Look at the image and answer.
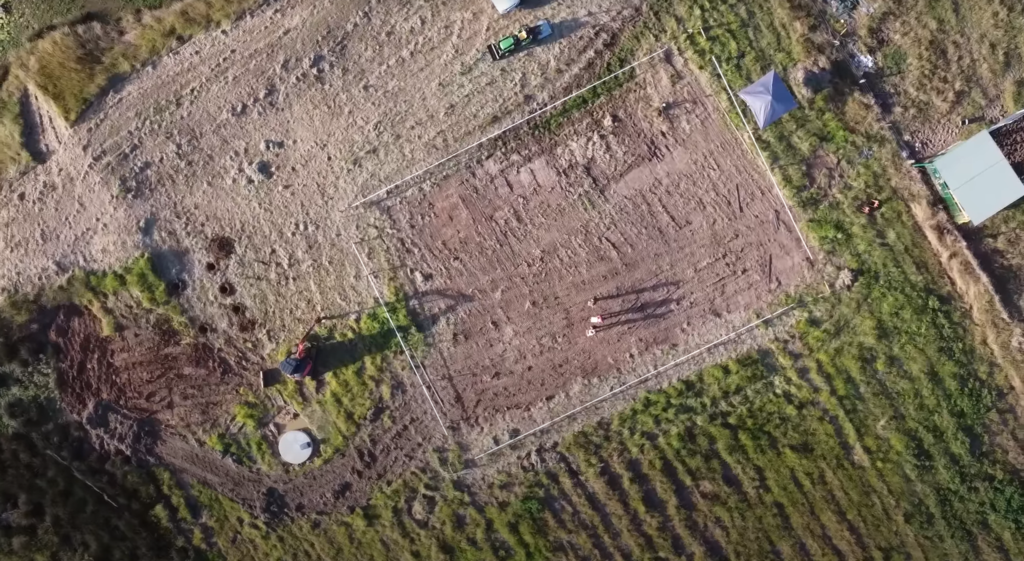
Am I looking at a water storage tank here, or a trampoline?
water storage tank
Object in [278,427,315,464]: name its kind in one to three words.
water tank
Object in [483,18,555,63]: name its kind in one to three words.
work vehicle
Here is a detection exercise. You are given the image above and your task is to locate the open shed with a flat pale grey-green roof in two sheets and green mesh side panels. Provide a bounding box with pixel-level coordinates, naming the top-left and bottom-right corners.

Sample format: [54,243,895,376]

[913,128,1024,227]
